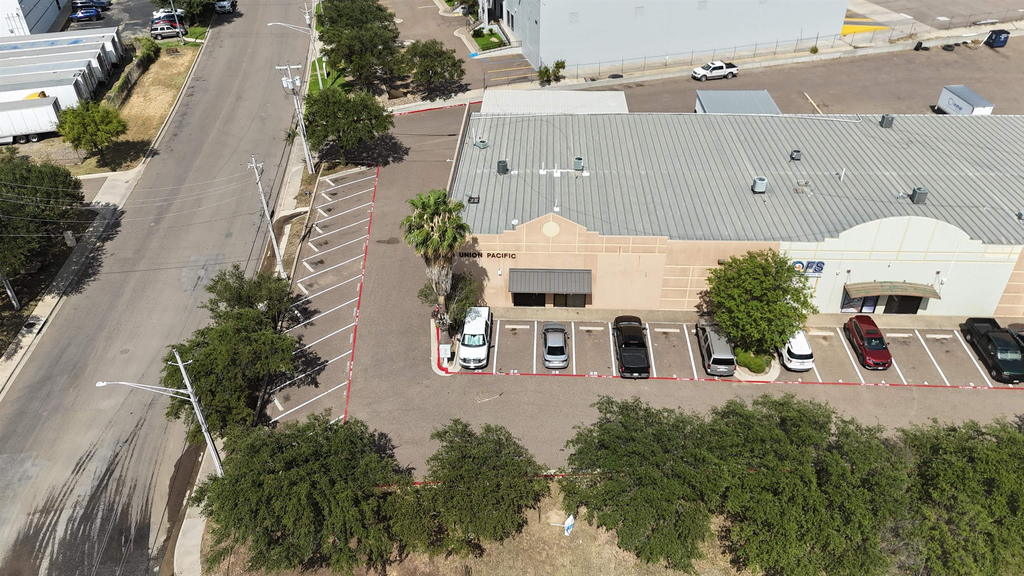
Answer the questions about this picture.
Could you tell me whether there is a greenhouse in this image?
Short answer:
No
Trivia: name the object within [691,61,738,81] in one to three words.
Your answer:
vehicle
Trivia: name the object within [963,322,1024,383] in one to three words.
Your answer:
truck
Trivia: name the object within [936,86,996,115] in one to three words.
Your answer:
trailer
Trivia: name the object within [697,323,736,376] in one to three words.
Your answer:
car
